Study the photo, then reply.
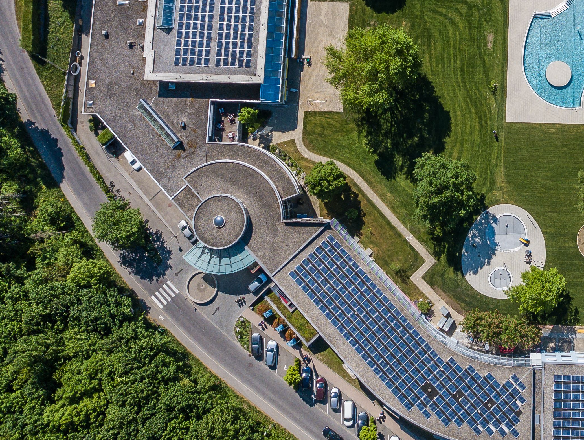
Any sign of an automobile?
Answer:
Yes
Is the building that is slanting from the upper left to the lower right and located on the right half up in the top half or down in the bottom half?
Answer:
bottom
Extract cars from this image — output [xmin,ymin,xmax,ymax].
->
[321,425,344,440]
[357,411,367,432]
[390,435,400,440]
[329,387,341,410]
[265,340,277,366]
[316,376,326,400]
[177,219,196,243]
[301,366,312,388]
[122,150,143,172]
[251,333,262,358]
[246,272,269,293]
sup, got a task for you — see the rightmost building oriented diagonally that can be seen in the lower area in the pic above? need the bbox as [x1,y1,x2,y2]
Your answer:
[252,217,532,440]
